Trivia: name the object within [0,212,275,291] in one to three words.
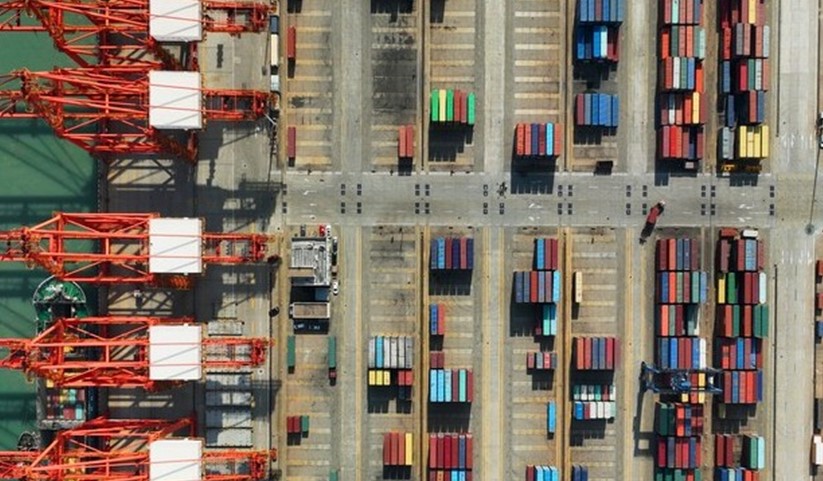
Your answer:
container crane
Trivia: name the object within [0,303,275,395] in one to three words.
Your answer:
container crane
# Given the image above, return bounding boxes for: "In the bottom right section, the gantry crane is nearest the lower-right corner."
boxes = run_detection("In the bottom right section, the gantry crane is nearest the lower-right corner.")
[644,358,728,395]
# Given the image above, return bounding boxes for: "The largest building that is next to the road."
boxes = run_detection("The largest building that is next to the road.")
[289,238,330,286]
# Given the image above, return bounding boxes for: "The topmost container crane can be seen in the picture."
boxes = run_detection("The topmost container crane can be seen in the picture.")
[0,0,275,76]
